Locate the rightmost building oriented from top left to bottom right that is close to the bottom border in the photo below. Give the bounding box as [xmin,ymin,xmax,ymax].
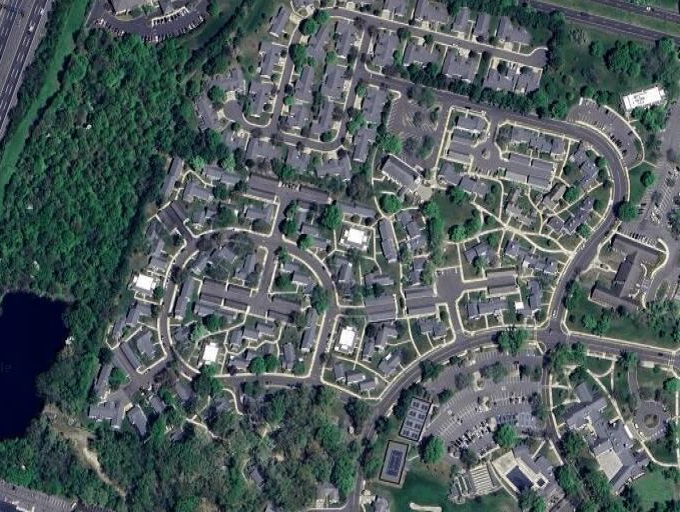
[564,384,652,492]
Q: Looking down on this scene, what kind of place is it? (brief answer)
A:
residential area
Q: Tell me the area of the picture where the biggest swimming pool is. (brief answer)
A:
bottom right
